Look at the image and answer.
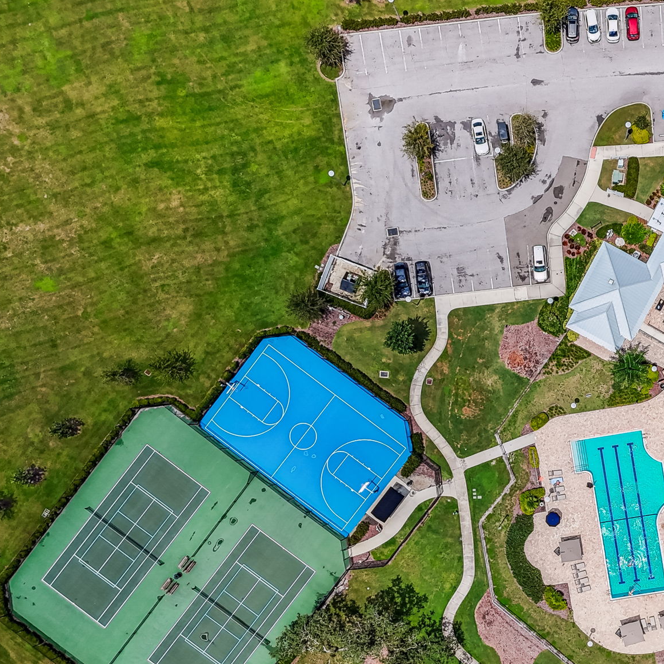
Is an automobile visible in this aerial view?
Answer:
Yes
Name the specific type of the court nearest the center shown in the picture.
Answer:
basketball court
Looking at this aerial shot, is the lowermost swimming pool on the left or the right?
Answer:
right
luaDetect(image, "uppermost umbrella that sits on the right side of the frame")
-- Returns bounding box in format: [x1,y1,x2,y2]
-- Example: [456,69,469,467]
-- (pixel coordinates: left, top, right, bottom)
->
[545,511,560,526]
